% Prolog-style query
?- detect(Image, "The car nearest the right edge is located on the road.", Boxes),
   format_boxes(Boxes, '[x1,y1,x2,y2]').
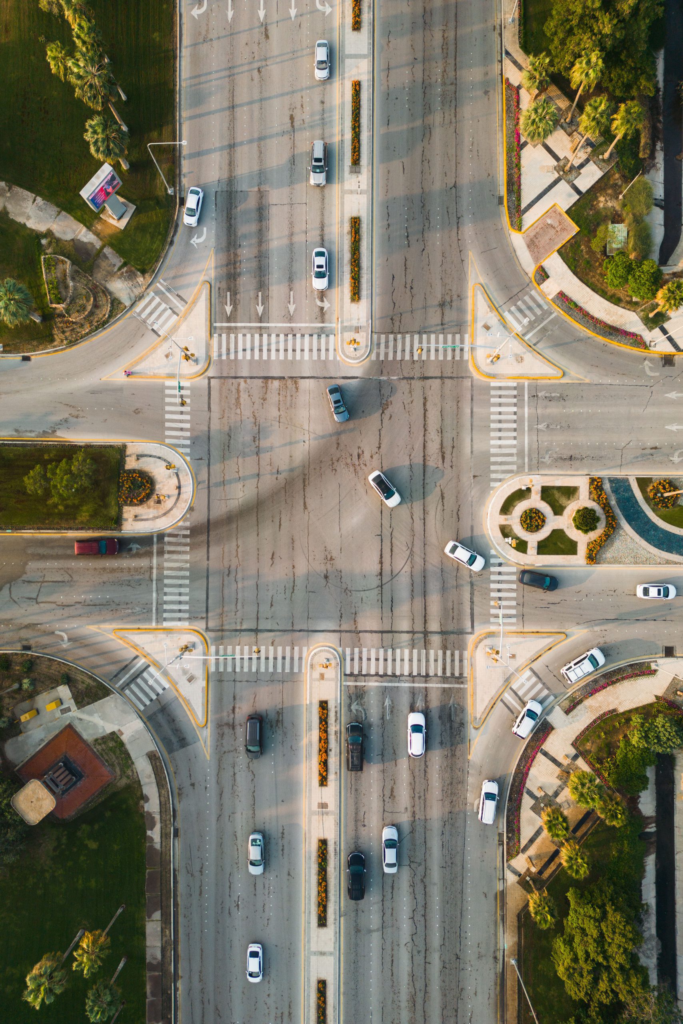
[635,583,676,601]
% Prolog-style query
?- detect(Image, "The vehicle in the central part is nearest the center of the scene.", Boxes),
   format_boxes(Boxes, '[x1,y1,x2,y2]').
[370,469,399,509]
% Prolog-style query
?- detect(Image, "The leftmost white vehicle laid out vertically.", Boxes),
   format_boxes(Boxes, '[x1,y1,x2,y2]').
[183,187,204,228]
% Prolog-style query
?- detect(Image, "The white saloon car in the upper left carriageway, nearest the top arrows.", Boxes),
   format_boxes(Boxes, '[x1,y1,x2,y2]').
[313,40,331,82]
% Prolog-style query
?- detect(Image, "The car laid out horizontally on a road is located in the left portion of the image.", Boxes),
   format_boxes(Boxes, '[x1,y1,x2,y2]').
[75,537,120,556]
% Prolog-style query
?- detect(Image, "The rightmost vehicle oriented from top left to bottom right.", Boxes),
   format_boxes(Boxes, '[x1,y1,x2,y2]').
[445,541,483,570]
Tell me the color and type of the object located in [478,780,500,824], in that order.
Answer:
white car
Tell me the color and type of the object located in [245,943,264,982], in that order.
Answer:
white car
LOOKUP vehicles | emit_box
[309,140,328,187]
[346,852,366,901]
[635,583,676,601]
[326,383,350,424]
[478,780,500,824]
[313,40,331,82]
[407,713,426,756]
[245,943,264,982]
[247,832,265,873]
[244,714,263,758]
[370,469,399,509]
[561,649,603,682]
[518,570,559,591]
[75,537,120,556]
[345,721,364,771]
[381,825,400,872]
[183,187,204,228]
[445,541,483,570]
[512,700,541,739]
[311,248,330,291]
